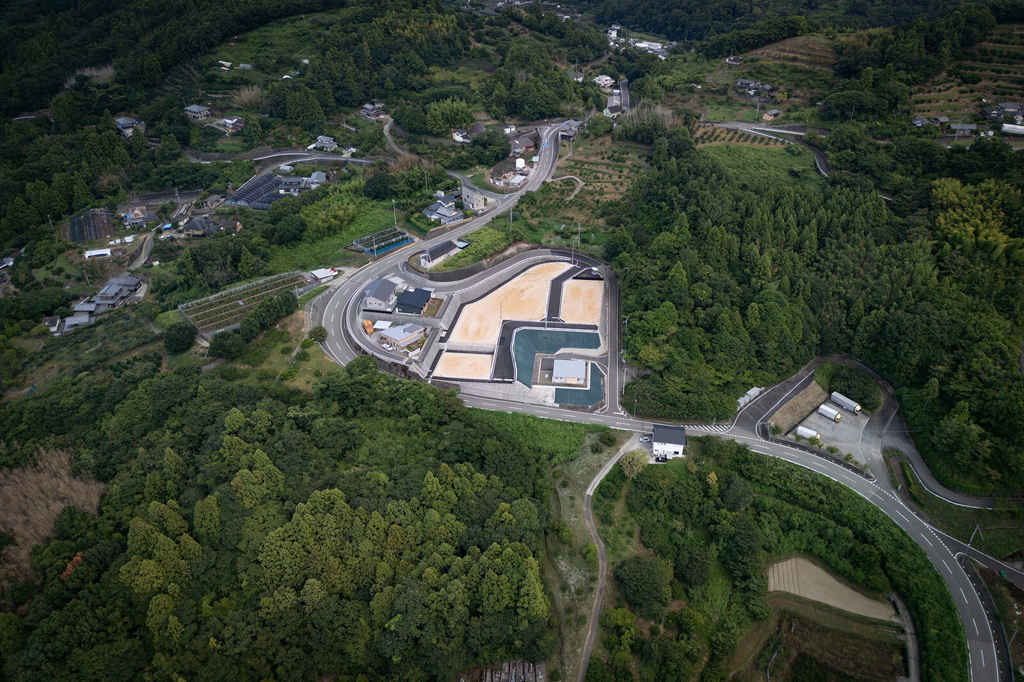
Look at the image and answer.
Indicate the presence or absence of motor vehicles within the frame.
Yes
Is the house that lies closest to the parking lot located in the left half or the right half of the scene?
right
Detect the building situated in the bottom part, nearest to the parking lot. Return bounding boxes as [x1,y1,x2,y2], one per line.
[653,421,687,461]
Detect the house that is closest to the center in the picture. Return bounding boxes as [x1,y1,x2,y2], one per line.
[551,358,586,384]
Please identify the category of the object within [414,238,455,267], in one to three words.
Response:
building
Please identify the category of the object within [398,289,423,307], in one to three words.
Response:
solar array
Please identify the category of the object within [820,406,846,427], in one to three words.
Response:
truck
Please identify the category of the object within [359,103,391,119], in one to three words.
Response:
house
